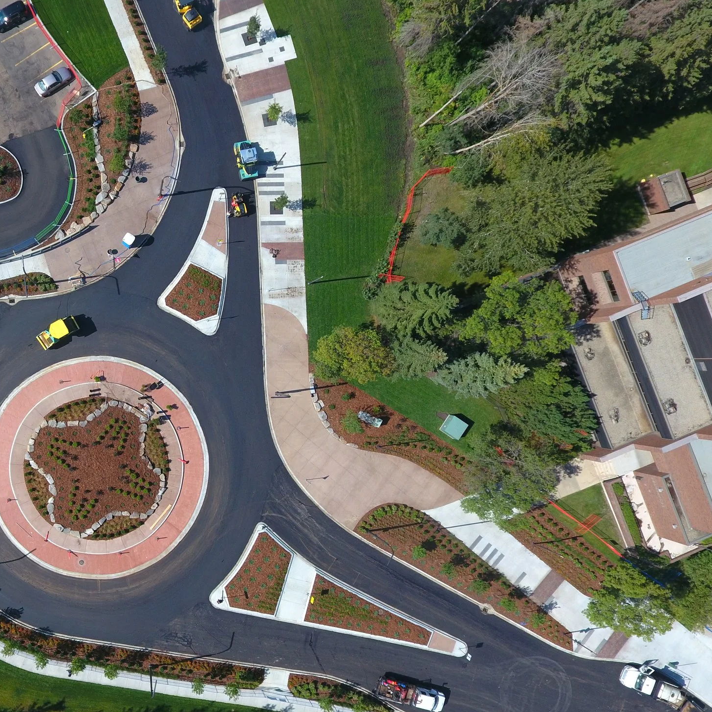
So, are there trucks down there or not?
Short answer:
Yes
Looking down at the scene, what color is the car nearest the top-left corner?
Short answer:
black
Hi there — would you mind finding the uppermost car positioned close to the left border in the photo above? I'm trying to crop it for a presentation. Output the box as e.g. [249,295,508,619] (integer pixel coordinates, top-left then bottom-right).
[0,1,35,32]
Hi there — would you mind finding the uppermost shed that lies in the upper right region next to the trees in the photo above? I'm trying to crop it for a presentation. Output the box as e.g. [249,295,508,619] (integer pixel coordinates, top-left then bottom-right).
[639,169,692,213]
